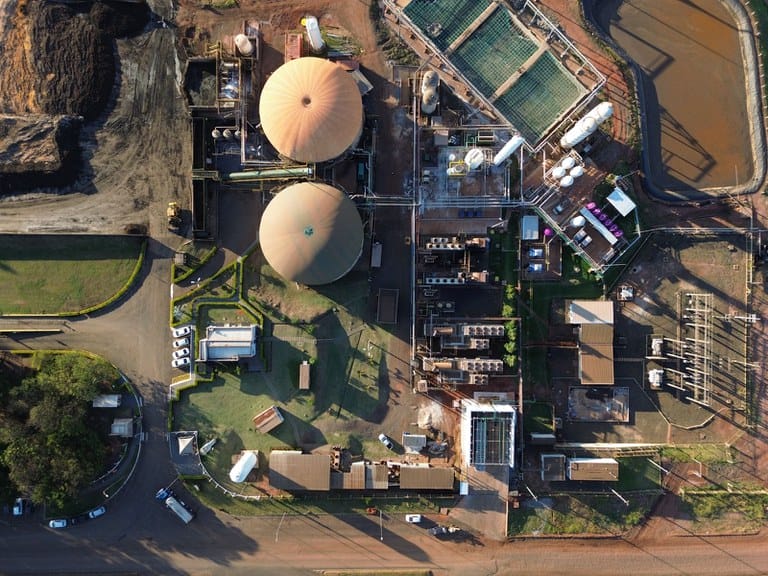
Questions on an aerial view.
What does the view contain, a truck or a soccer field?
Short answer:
truck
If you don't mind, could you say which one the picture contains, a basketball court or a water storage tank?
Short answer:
water storage tank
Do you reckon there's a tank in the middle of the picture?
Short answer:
Yes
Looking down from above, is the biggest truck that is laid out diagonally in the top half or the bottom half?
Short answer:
bottom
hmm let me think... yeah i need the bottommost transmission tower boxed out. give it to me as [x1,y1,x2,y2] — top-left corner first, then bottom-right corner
[730,358,761,373]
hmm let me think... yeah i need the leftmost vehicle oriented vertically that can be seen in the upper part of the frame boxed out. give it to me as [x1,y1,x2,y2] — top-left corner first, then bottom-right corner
[167,202,182,231]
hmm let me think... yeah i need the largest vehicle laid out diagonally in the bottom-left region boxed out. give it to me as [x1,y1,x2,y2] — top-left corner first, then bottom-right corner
[152,483,195,524]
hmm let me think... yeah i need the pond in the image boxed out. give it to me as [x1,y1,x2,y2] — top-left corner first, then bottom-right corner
[581,0,762,202]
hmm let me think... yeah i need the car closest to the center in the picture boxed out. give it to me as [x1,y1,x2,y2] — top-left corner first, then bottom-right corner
[378,430,394,448]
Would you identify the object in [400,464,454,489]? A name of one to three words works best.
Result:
building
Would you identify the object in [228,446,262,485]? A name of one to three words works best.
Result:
water tank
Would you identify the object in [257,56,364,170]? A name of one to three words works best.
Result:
storage tank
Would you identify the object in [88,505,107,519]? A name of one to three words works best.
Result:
car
